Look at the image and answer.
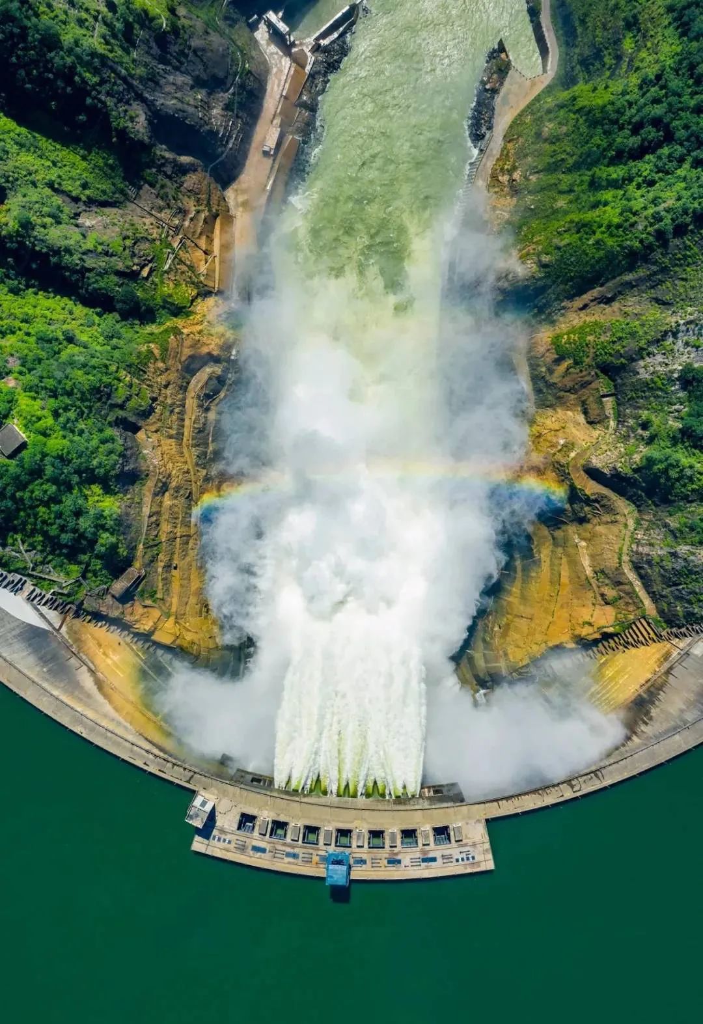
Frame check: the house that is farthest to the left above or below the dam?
above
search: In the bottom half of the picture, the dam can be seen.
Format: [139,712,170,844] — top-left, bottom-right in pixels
[0,584,703,881]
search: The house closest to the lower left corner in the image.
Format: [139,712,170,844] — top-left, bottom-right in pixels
[185,786,219,829]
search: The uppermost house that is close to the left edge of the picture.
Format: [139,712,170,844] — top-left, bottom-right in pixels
[0,423,35,458]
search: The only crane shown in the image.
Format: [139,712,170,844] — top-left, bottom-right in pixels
[327,850,350,889]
